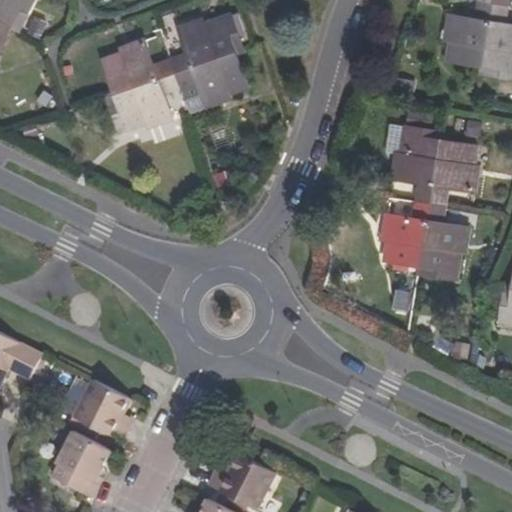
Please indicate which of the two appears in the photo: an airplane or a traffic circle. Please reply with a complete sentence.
The one in the frame is a traffic circle.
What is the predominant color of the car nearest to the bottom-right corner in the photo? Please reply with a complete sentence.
The color of the car nearest to the bottom-right corner is blue.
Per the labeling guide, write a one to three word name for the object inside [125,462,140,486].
car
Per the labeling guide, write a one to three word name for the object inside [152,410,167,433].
car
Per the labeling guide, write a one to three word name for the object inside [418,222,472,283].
house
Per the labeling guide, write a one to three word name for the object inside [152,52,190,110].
house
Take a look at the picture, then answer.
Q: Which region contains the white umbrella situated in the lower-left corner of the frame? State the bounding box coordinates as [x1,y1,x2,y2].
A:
[38,444,54,460]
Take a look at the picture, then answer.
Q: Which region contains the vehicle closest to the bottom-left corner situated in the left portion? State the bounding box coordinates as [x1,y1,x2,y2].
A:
[96,480,112,502]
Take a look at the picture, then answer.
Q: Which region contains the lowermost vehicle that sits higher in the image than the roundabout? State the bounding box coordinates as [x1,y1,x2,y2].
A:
[290,182,306,204]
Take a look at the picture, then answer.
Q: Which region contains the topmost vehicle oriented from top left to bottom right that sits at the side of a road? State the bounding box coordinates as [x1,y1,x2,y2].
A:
[280,307,302,326]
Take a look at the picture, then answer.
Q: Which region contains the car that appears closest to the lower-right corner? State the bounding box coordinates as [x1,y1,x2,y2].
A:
[343,354,366,374]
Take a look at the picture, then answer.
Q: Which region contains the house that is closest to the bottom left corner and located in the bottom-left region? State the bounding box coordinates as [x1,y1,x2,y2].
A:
[51,430,111,498]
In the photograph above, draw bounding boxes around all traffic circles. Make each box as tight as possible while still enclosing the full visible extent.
[156,231,301,383]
